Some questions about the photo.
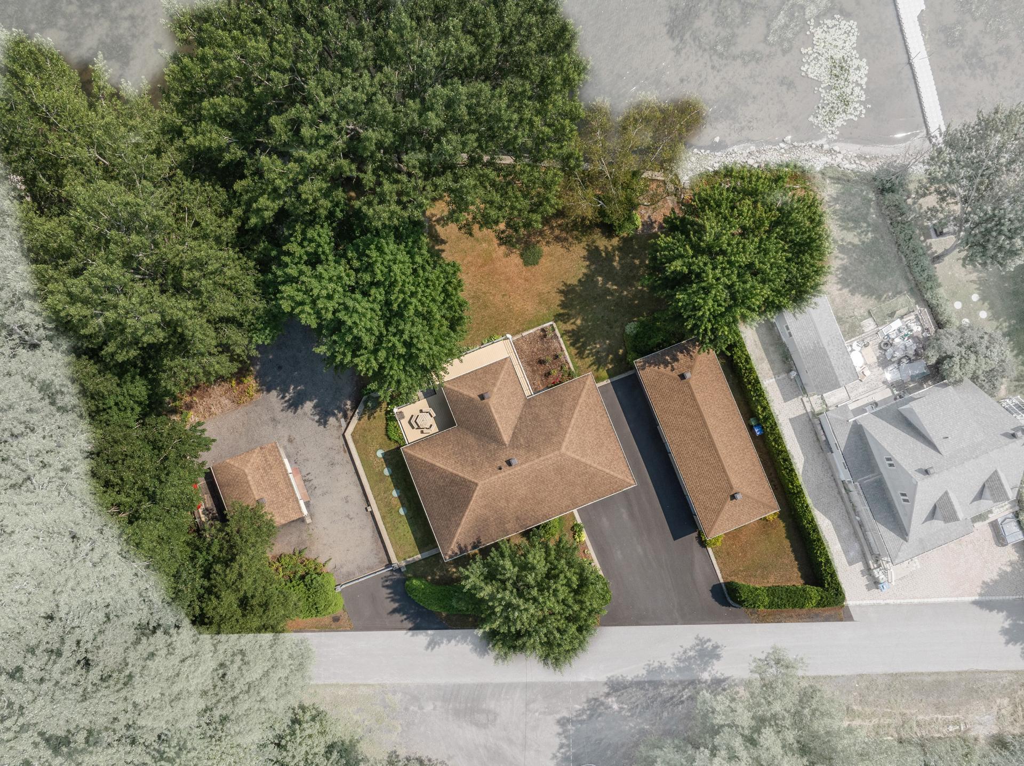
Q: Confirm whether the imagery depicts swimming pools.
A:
No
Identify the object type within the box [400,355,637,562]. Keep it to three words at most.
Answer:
house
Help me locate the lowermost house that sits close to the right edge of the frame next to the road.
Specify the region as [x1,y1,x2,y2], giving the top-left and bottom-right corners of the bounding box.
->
[811,376,1024,566]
